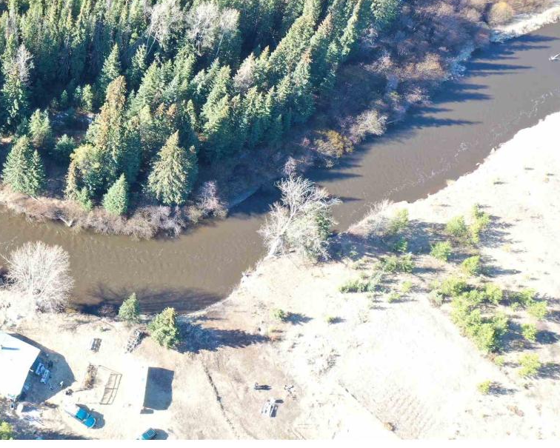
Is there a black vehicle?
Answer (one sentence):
No, I find no black vehicle anywhere in the image.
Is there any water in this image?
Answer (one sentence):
Yes, water shows up in the scene.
